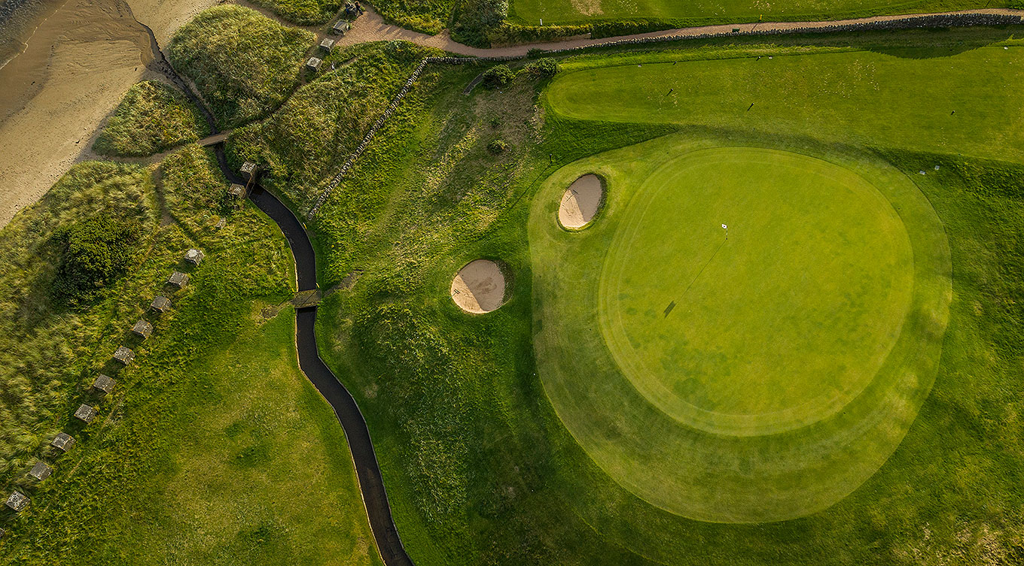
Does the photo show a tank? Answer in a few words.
No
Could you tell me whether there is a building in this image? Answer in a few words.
No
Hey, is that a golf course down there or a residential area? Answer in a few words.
golf course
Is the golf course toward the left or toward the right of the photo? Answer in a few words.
right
